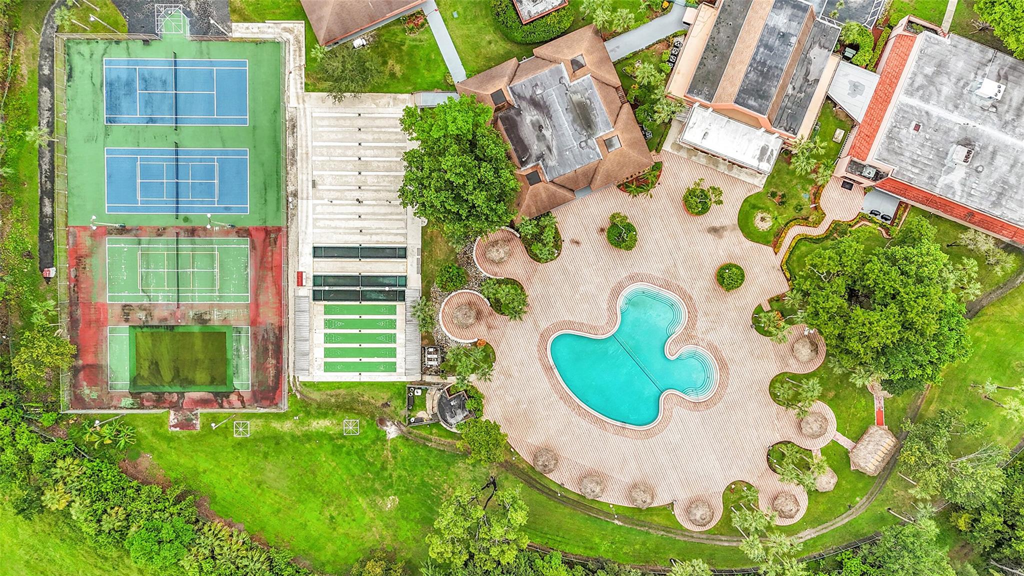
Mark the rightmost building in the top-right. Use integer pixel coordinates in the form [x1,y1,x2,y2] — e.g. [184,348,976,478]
[832,15,1024,246]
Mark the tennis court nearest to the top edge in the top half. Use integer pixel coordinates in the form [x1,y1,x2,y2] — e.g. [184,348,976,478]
[104,51,249,131]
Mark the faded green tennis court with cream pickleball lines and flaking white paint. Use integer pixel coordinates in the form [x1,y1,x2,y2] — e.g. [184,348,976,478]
[106,232,250,309]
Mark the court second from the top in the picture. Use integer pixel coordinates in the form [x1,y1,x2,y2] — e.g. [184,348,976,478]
[105,141,249,220]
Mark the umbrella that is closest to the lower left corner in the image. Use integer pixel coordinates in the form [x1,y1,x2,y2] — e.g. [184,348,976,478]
[451,303,478,329]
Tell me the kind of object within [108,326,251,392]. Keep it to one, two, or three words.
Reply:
tennis court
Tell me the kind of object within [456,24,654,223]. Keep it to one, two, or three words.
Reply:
building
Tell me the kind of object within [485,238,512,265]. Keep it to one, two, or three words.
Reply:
umbrella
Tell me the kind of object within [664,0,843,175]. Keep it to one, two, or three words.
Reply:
building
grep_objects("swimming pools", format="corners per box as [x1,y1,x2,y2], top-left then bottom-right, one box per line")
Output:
[537,273,730,440]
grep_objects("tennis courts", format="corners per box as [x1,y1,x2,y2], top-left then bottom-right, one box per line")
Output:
[105,141,249,220]
[106,232,250,309]
[104,51,249,131]
[108,326,251,392]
